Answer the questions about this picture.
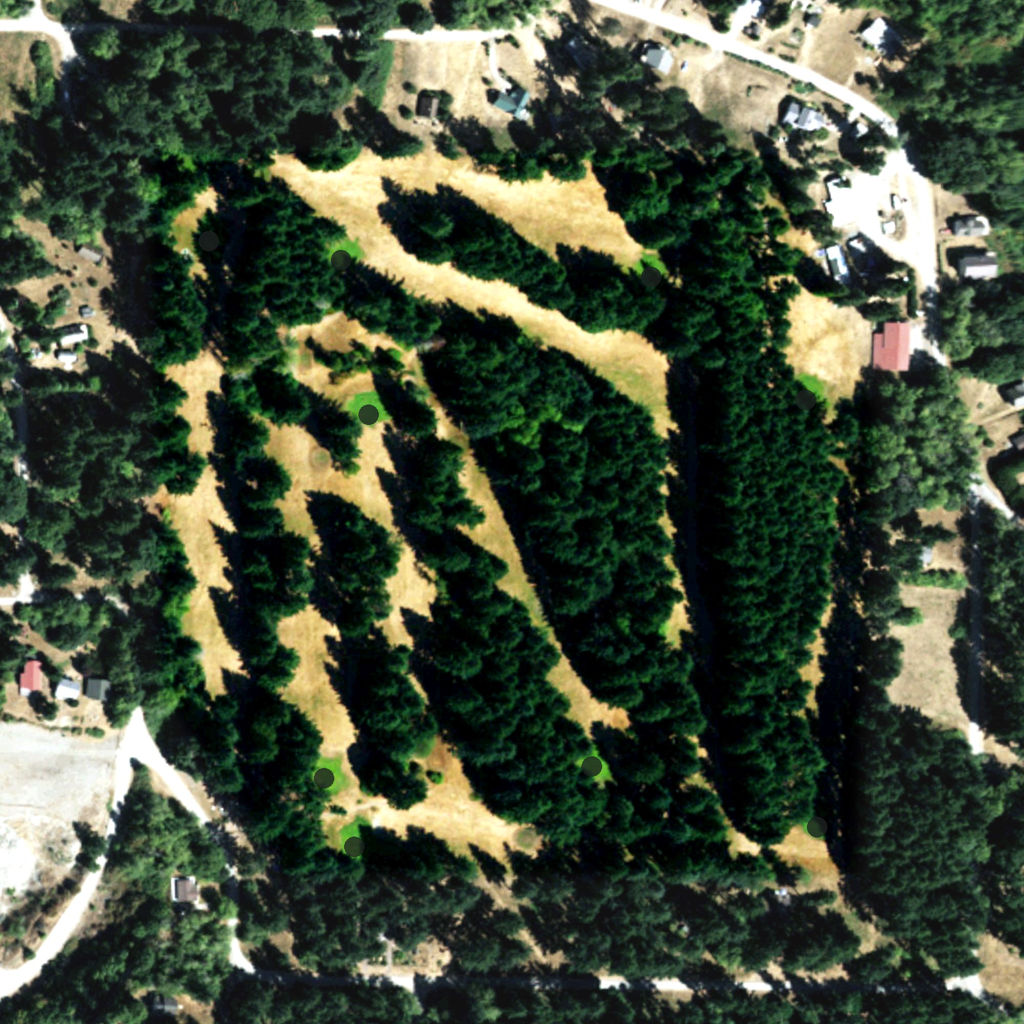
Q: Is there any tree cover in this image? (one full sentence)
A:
Yes, tree cover can be seen from above here.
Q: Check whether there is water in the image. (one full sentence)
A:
No, the picture contains no water.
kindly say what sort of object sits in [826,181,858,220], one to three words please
building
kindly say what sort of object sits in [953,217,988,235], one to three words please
house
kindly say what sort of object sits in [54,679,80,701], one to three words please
house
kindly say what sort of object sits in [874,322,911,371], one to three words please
building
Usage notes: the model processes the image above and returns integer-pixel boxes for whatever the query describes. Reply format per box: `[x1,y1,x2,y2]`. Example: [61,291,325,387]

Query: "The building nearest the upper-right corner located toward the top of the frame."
[861,13,903,55]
